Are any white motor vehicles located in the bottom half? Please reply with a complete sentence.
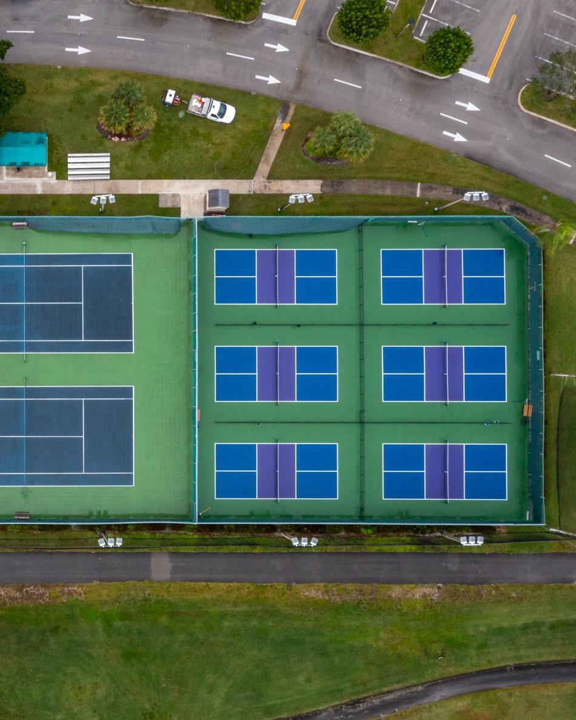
No, the scene shows no white motor vehicle in the bottom half.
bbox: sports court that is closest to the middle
[215,346,338,401]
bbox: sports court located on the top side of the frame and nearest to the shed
[215,249,338,305]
